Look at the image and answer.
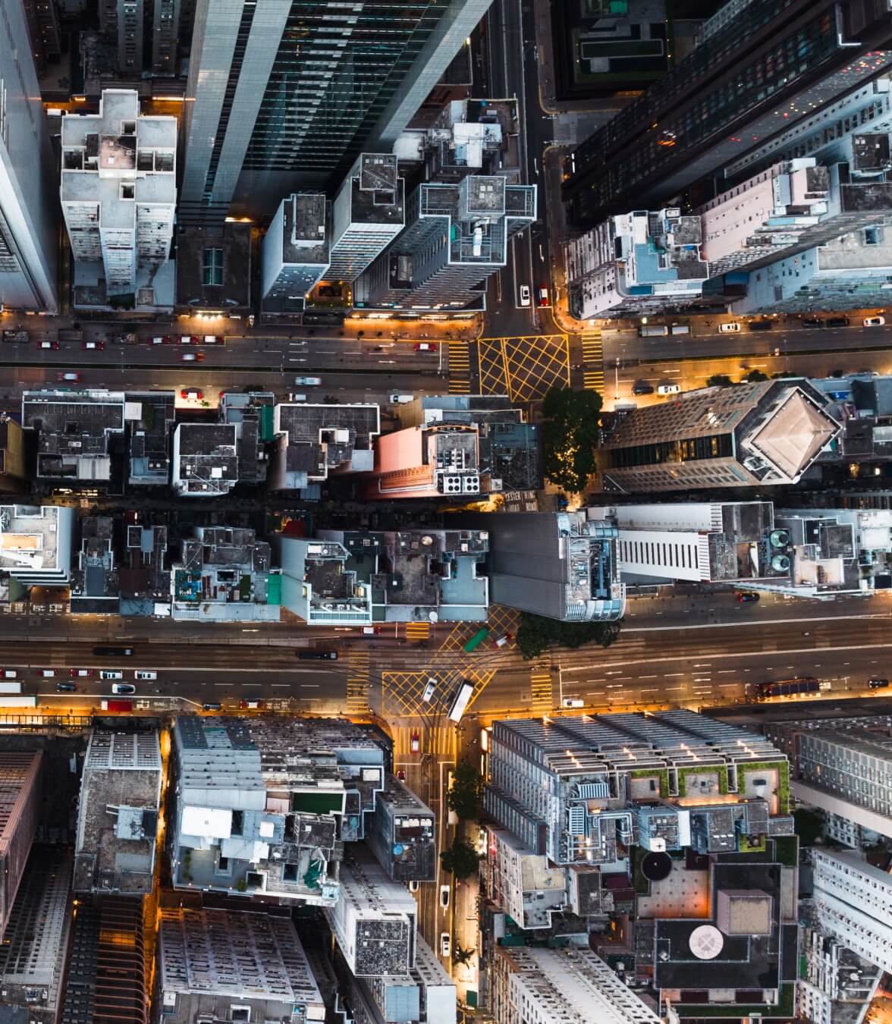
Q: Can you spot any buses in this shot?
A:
Yes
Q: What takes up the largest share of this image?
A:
buildings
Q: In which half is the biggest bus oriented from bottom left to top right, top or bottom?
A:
bottom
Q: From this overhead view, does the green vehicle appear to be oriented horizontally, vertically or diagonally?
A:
diagonally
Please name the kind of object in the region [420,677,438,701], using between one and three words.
vehicle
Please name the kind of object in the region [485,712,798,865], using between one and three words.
building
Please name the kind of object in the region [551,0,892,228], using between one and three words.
building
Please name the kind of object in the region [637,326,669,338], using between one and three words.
vehicle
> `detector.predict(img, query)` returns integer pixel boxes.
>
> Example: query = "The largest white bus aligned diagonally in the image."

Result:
[444,677,481,725]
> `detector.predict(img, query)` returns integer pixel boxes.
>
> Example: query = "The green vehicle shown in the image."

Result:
[461,625,490,655]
